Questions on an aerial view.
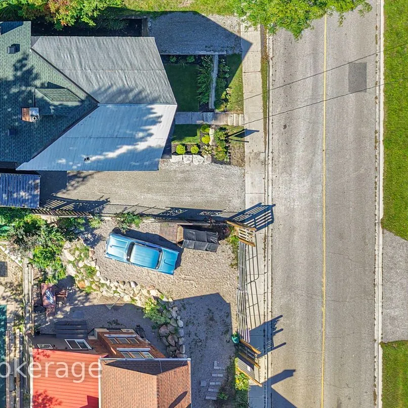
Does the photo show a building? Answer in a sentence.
Yes, there's a building down there.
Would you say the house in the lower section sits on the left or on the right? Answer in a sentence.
The house in the lower section sits on the left side.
